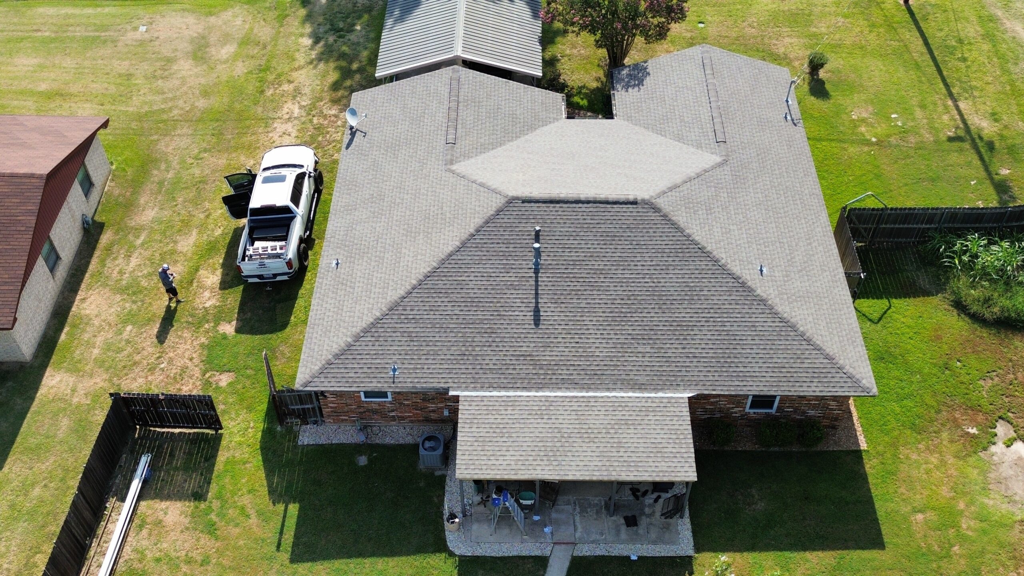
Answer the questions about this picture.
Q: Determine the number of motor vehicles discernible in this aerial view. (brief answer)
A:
1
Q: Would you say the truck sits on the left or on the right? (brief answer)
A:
left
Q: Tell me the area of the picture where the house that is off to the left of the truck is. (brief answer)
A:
left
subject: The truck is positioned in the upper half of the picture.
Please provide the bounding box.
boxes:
[217,142,323,289]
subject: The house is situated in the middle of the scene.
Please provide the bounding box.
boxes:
[293,45,879,430]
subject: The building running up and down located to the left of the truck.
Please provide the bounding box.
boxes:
[0,115,107,363]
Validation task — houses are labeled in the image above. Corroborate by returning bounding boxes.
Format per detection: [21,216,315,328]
[293,45,879,430]
[0,115,107,363]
